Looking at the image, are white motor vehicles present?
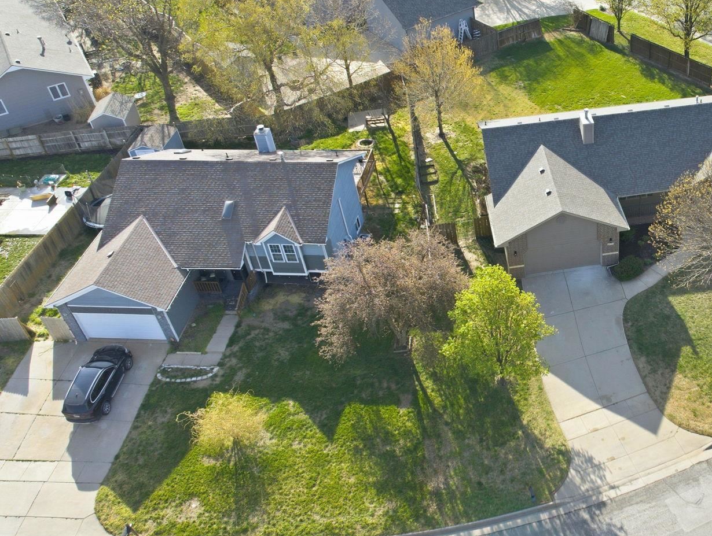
No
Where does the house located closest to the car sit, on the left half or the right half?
left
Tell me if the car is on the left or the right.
left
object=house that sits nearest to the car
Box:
[47,122,389,342]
